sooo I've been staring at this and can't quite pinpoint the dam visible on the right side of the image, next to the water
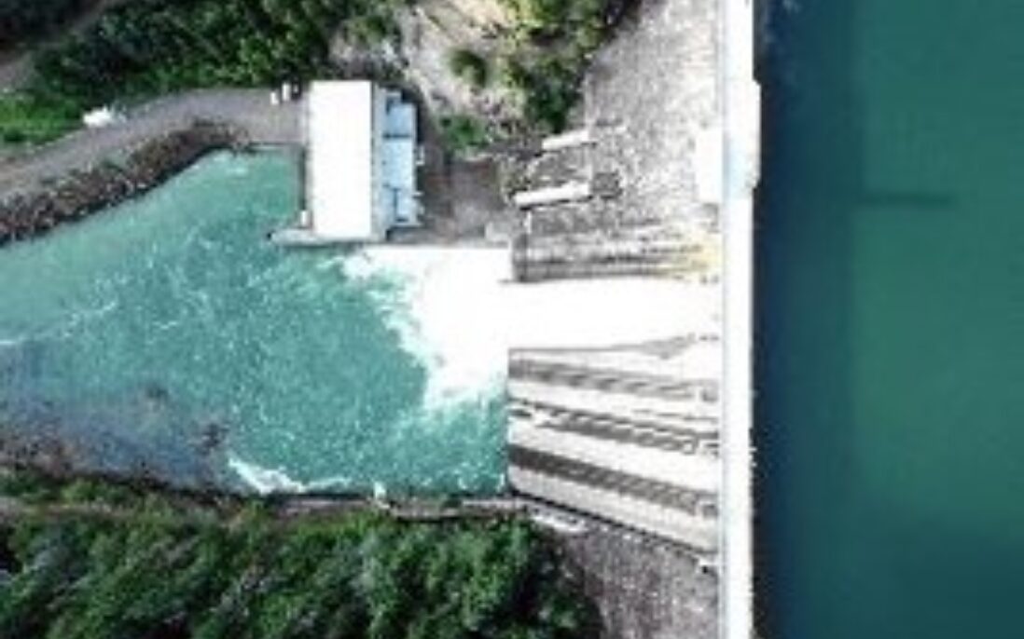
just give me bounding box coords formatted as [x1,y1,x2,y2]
[499,0,763,639]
